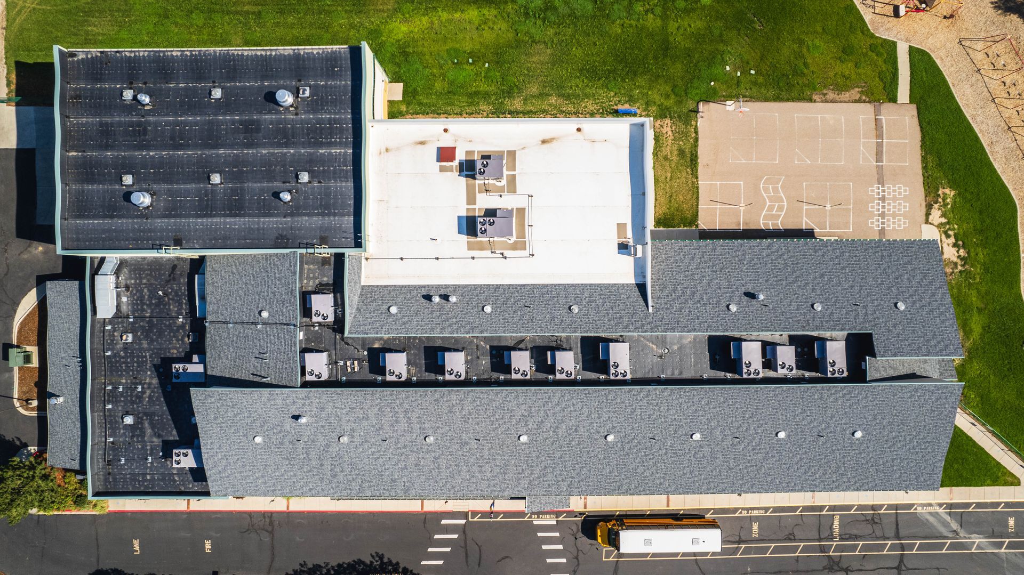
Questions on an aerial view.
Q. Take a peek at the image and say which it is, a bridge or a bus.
bus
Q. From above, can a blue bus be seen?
No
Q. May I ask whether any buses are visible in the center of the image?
No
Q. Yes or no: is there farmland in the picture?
No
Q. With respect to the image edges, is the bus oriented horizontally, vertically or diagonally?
horizontally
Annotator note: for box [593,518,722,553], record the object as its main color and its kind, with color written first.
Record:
white bus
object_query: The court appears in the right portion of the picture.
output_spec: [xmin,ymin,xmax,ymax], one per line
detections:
[698,102,925,239]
